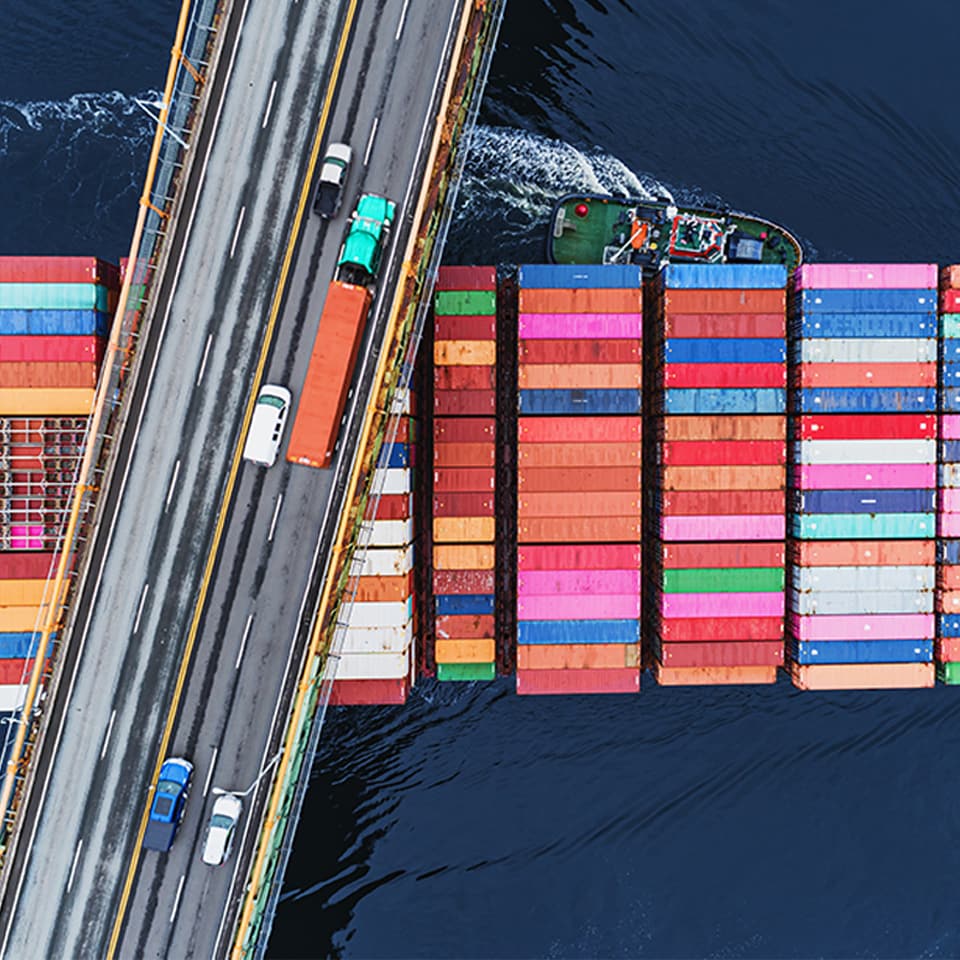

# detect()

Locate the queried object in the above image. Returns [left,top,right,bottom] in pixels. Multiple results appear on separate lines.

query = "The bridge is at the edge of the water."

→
[0,0,511,960]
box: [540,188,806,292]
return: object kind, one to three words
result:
boat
